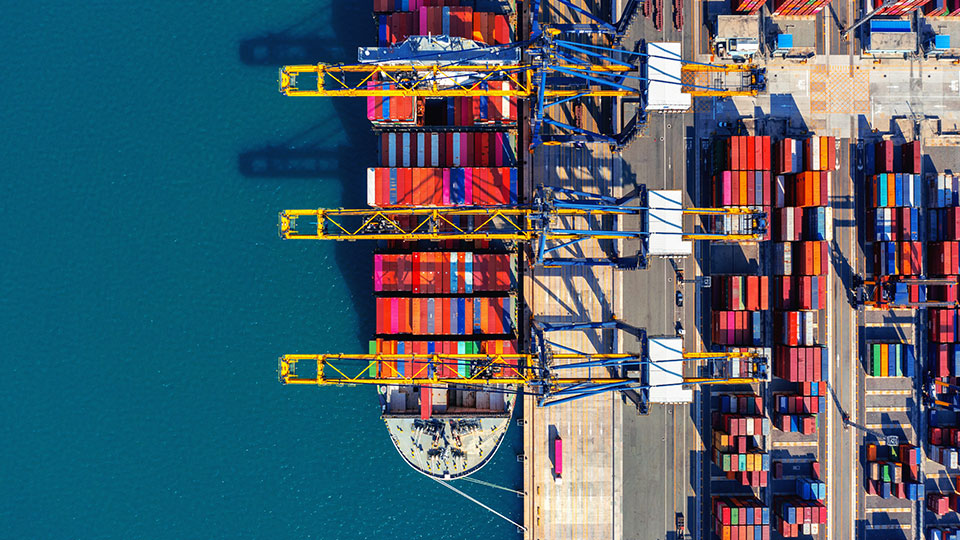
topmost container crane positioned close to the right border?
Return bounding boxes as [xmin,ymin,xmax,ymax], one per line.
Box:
[854,275,960,309]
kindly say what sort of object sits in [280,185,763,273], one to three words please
container crane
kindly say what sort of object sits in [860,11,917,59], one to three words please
building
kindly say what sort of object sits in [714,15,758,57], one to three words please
building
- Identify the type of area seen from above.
port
